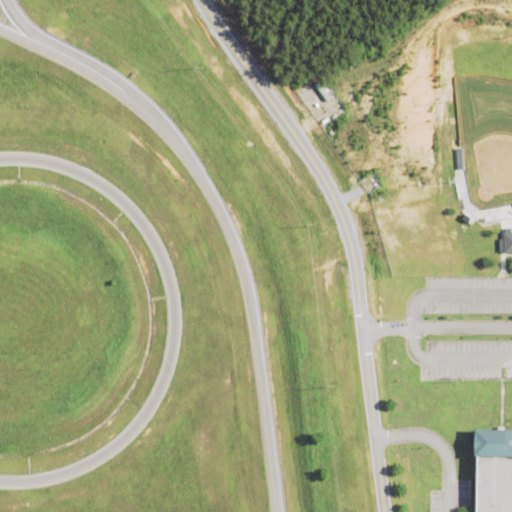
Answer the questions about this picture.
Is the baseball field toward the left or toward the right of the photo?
right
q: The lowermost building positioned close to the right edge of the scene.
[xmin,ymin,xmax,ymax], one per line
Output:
[474,430,512,512]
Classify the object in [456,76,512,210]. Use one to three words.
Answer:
baseball field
